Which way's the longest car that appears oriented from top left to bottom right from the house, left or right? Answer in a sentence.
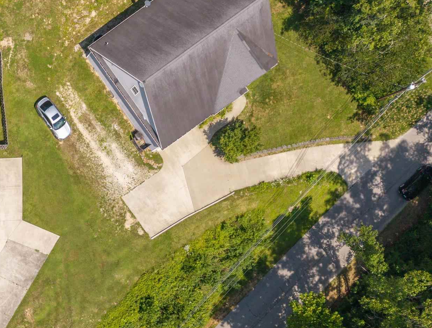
The house has the longest car that appears oriented from top left to bottom right on its left side.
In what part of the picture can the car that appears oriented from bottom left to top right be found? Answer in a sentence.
The car that appears oriented from bottom left to top right is in the right part of the image.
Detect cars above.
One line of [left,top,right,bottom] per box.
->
[35,97,70,144]
[396,159,432,202]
